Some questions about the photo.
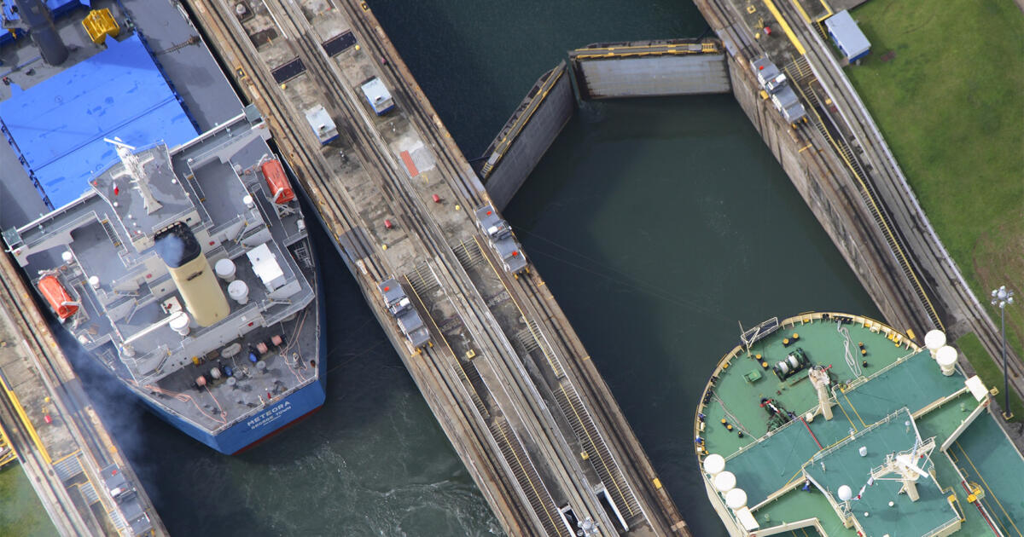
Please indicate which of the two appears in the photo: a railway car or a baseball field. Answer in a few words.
railway car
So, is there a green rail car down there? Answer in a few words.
No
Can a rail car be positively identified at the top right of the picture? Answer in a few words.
Yes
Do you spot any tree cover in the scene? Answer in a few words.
No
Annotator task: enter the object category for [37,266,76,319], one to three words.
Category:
boat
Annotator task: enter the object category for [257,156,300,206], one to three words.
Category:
boat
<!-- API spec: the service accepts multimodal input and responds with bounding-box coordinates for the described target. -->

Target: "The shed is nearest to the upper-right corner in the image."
[823,9,872,68]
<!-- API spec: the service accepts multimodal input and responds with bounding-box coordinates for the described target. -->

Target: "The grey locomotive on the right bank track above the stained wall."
[752,52,806,124]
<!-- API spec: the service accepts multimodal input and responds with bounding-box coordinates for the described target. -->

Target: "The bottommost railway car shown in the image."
[97,464,150,537]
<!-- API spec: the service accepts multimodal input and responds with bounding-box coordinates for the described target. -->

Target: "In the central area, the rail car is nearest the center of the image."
[475,201,528,274]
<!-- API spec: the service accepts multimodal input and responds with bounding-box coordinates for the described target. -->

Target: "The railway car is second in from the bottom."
[378,276,432,351]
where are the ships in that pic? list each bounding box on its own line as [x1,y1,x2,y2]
[693,313,1024,537]
[0,0,326,457]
